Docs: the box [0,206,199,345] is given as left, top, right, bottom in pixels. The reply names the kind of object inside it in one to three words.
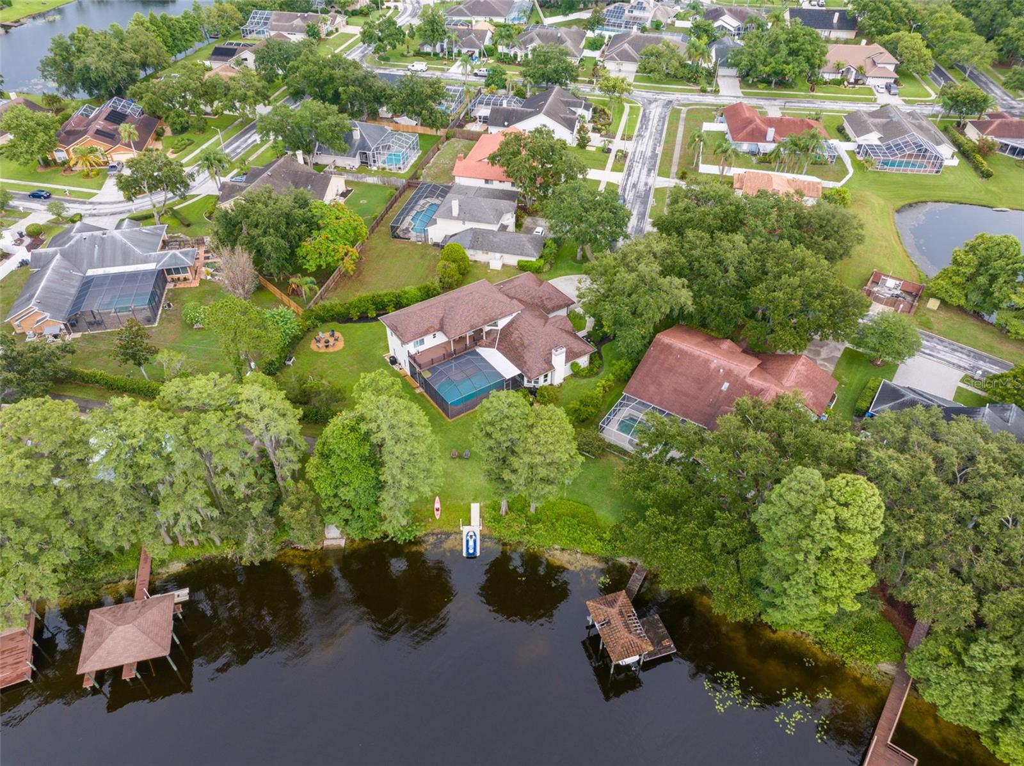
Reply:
house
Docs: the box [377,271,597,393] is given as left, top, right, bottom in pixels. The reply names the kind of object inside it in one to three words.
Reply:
house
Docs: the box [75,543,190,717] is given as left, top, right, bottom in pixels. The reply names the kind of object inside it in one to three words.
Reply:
building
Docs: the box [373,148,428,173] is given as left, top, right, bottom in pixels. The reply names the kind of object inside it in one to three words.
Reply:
swimming pool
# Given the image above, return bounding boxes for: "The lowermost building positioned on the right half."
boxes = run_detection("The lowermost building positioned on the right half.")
[583,562,681,693]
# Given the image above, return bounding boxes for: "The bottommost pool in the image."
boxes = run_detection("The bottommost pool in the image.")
[600,407,693,461]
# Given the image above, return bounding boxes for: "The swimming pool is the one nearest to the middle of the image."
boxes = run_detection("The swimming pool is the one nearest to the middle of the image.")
[409,355,507,420]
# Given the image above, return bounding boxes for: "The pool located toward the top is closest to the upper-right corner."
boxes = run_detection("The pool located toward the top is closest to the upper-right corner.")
[862,152,943,174]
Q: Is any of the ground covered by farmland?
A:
No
